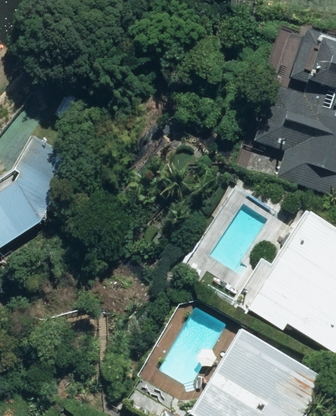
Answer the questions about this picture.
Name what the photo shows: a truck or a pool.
pool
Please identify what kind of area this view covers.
residential area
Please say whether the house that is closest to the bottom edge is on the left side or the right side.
right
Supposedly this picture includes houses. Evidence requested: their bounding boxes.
[238,210,336,352]
[255,24,336,195]
[190,330,322,416]
[0,135,55,250]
